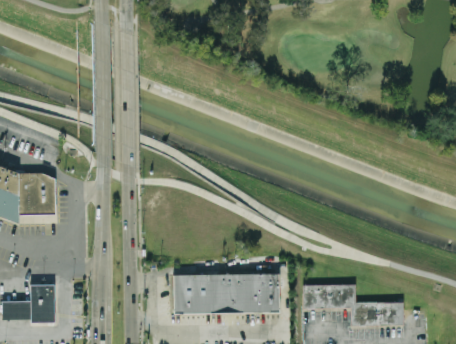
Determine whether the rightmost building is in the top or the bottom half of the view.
bottom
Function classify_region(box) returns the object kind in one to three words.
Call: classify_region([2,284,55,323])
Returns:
building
